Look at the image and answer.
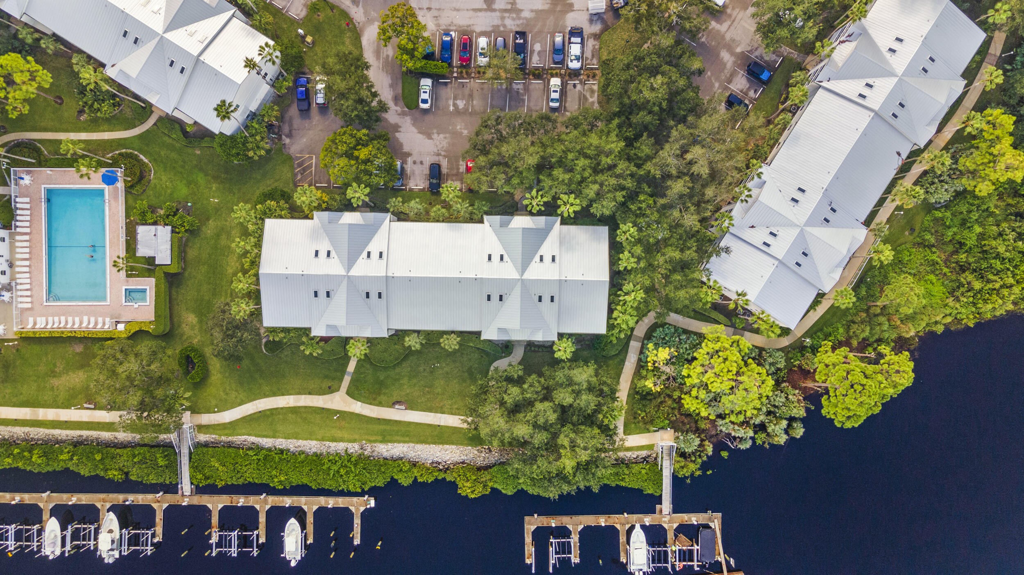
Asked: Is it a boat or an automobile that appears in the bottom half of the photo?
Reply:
boat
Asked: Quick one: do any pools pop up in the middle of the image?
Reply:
No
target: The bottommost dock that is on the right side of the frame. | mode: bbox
[525,513,722,564]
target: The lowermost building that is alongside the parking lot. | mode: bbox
[259,197,611,356]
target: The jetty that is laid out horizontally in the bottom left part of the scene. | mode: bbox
[0,494,374,544]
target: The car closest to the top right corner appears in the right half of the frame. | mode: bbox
[743,60,772,84]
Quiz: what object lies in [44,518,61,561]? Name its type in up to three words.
boat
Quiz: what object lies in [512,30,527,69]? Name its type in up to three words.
vehicle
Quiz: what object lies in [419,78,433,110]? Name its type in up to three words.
car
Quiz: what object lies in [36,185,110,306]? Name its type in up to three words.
swimming pool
